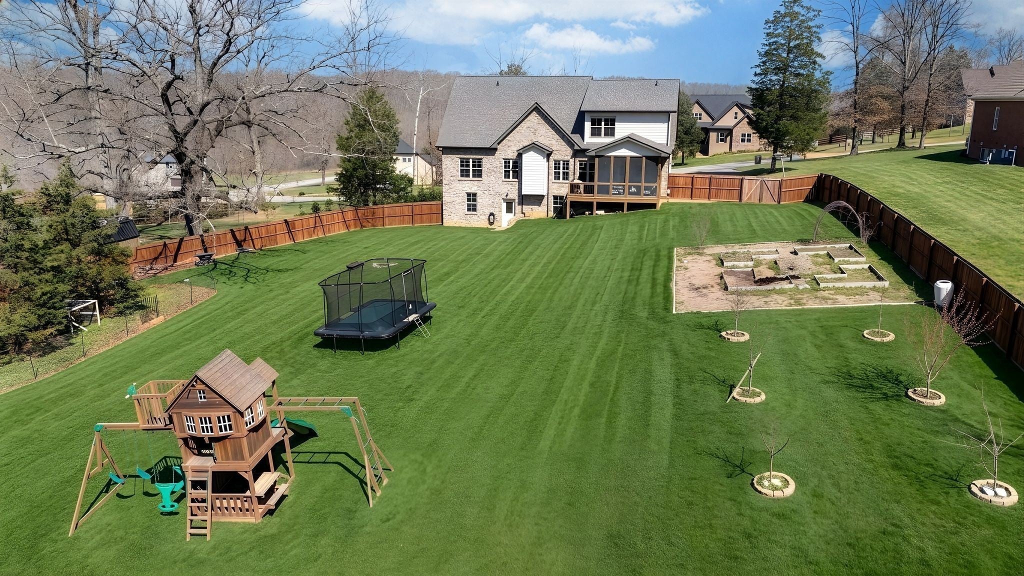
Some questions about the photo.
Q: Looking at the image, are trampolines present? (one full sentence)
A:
Yes, this view includes a trampoline.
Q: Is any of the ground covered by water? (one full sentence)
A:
No, no water is visible.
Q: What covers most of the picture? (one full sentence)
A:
Most of the picture is covered by grass.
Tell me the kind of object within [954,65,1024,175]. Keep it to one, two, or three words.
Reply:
house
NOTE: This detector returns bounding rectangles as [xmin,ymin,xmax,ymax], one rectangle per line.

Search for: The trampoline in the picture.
[321,260,434,355]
